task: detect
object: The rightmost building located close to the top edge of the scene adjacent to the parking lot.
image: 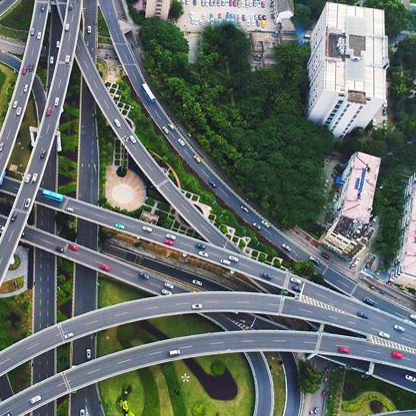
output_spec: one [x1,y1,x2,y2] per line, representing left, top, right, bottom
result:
[307,0,391,130]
